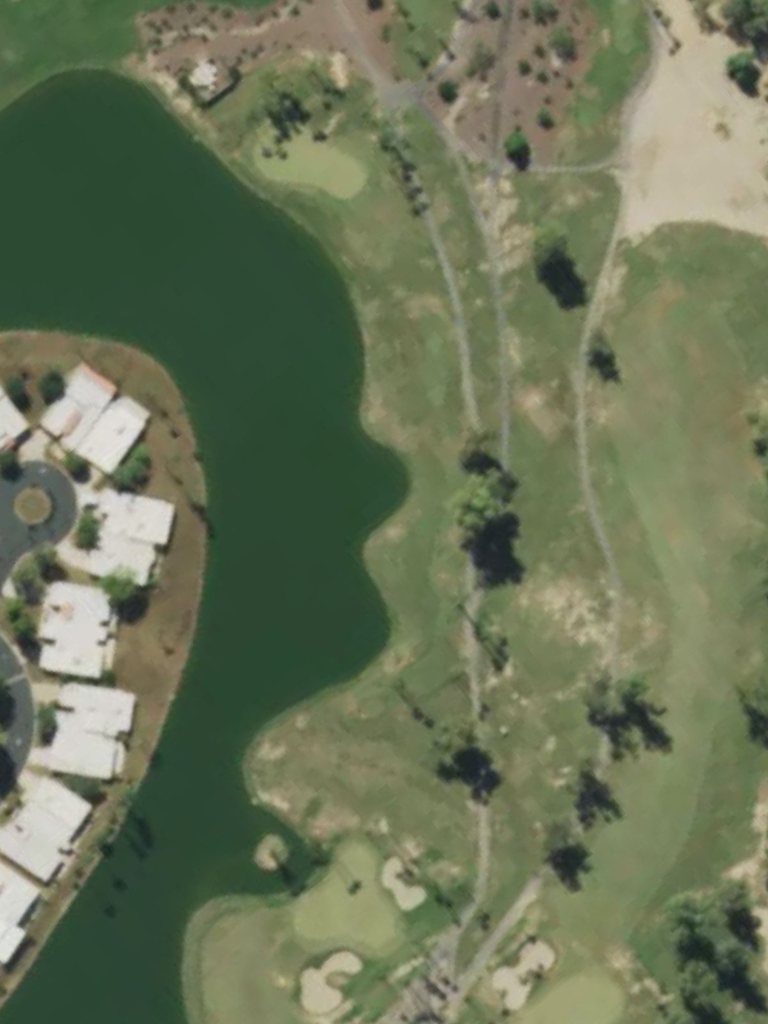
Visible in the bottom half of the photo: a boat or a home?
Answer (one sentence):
Looking in the bottom half of the photo, you will find a home.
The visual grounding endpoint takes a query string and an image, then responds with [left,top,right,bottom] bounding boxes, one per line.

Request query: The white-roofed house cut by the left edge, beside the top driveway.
[0,386,30,450]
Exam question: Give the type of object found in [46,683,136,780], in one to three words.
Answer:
house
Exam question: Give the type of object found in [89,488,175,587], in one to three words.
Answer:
house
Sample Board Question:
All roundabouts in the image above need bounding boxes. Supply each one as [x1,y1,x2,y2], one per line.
[13,485,52,524]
